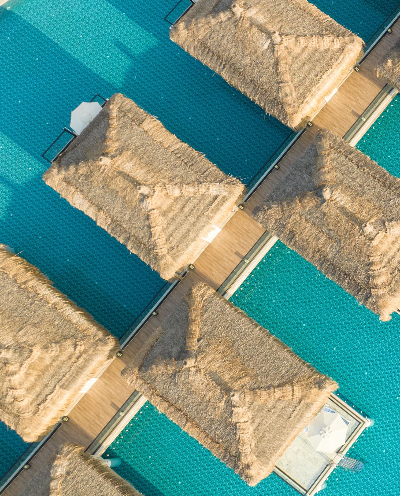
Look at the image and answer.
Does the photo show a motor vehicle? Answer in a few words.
No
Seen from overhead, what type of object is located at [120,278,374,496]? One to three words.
house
